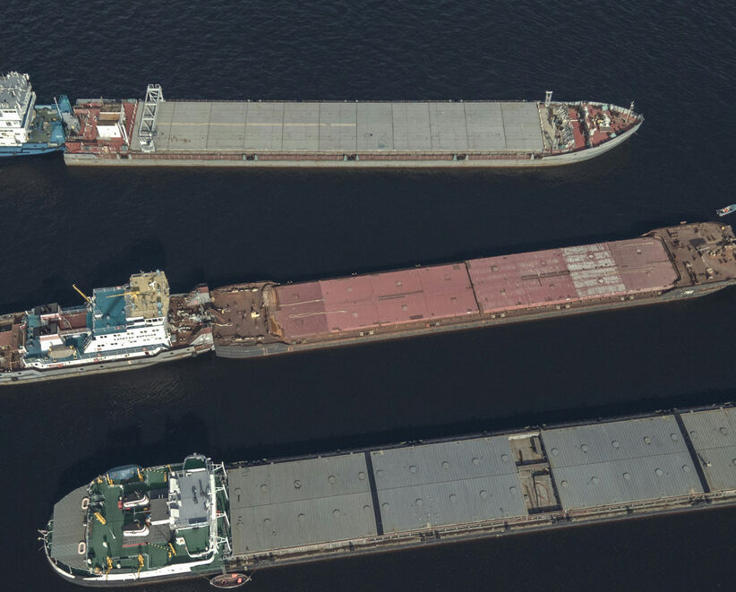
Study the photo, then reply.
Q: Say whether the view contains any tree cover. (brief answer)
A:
No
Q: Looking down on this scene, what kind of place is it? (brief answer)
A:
port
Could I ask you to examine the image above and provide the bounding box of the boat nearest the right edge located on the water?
[716,205,736,217]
